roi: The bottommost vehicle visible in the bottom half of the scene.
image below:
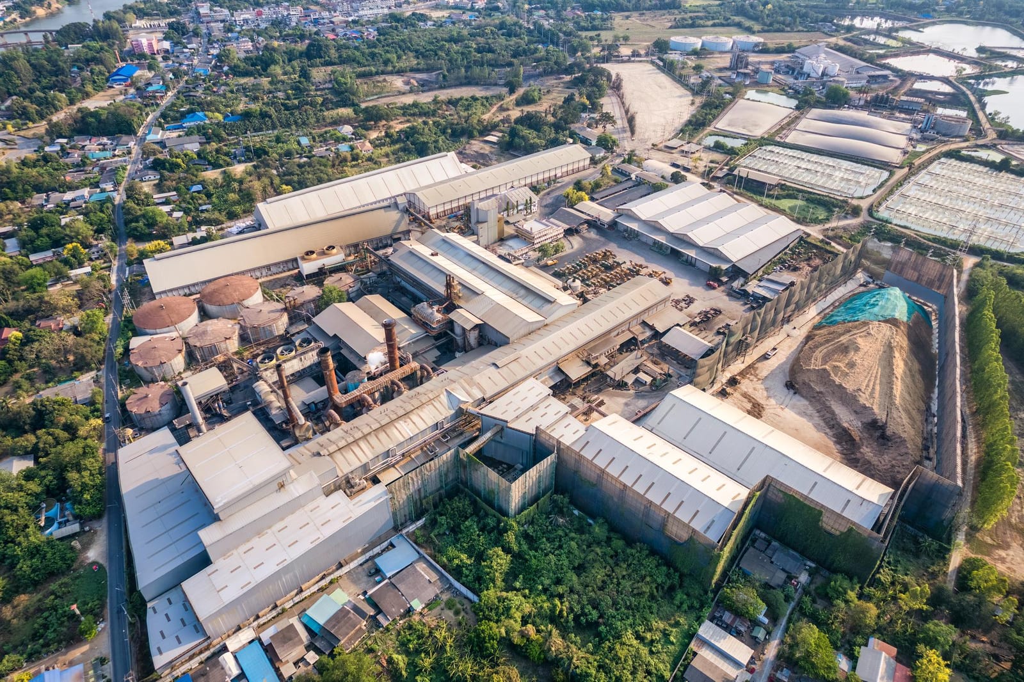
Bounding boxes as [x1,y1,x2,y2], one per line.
[362,564,379,577]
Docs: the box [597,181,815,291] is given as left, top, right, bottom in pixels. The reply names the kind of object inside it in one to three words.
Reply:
warehouse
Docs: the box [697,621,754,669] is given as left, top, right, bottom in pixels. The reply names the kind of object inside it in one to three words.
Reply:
house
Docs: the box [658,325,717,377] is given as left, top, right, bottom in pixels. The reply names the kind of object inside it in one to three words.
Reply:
shed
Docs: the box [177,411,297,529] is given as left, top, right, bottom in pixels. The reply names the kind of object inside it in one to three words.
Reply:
building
